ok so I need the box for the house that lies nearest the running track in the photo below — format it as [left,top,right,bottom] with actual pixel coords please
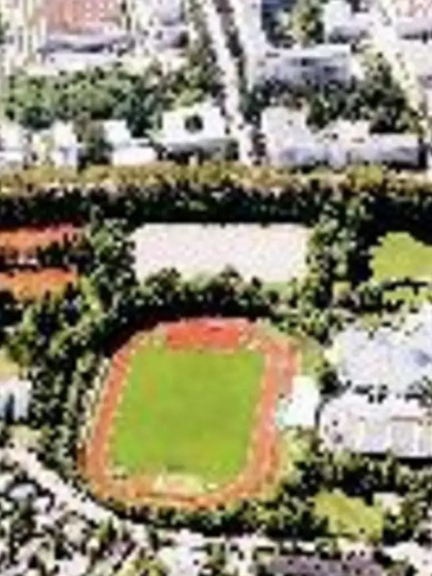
[160,526,185,542]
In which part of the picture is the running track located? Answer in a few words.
bottom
